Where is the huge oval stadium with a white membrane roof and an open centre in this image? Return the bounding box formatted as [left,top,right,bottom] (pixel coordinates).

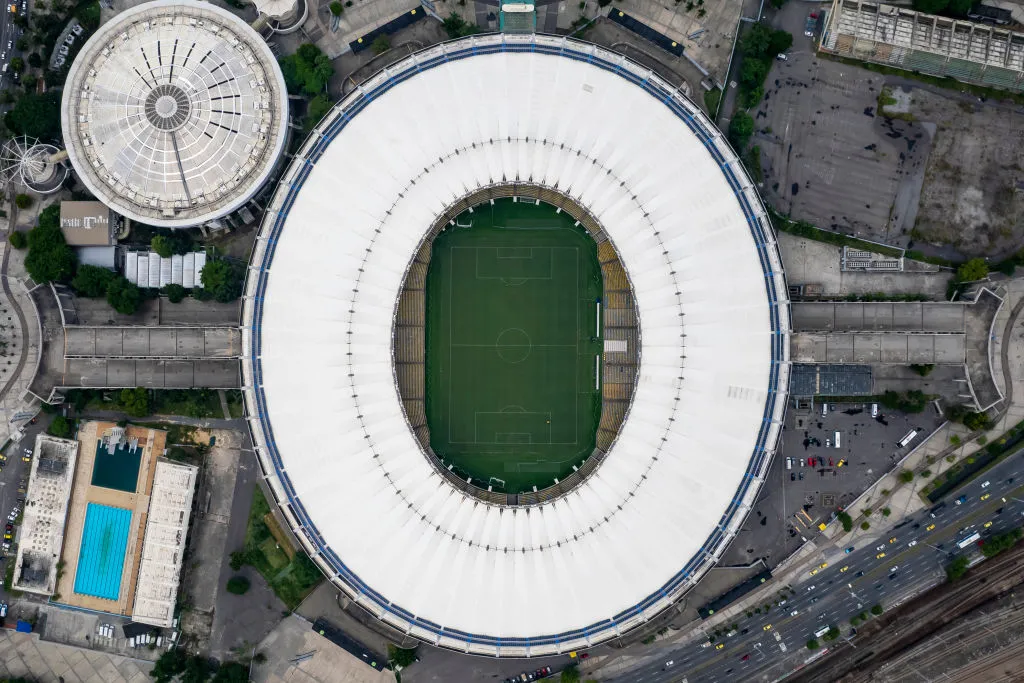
[242,34,790,657]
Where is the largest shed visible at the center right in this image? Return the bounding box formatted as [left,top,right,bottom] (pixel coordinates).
[789,365,871,396]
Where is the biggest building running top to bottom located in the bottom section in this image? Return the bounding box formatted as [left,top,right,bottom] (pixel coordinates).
[12,433,84,595]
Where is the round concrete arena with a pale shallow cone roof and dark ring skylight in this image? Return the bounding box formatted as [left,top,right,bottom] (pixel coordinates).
[62,0,306,238]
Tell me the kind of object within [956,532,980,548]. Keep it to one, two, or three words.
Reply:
vehicle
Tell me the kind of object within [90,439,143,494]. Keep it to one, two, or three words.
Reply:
swimming pool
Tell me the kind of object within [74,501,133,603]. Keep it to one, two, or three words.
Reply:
swimming pool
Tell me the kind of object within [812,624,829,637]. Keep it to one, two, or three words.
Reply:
vehicle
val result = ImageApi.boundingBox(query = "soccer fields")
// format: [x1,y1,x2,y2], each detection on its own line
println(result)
[426,198,603,493]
